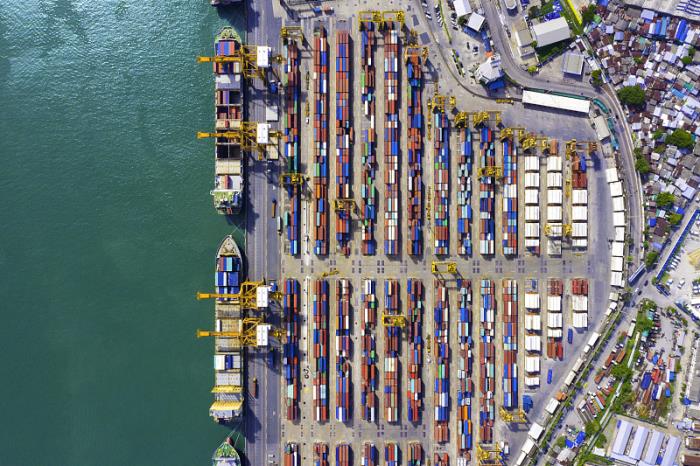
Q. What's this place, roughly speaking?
port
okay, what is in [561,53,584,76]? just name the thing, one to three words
building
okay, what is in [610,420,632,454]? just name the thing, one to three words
building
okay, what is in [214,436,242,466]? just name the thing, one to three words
ship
